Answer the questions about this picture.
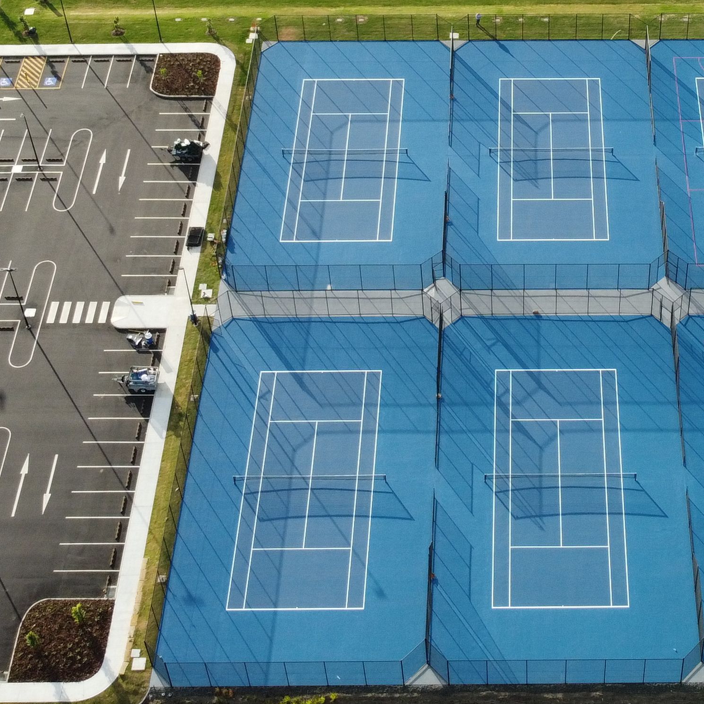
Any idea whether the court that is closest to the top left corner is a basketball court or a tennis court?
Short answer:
tennis court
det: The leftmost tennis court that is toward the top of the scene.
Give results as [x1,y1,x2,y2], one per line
[222,39,452,291]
